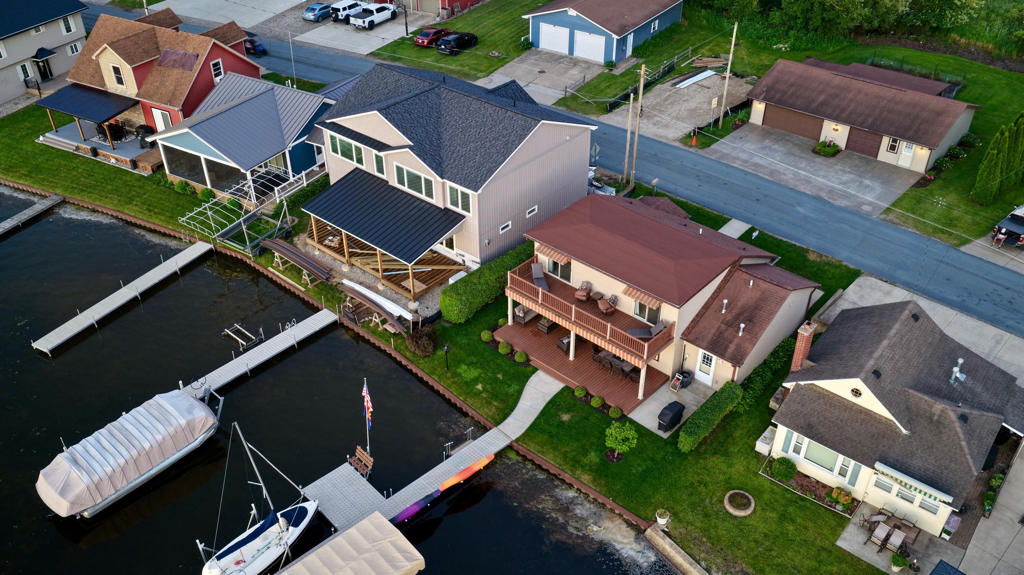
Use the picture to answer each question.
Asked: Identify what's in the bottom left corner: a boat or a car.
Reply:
boat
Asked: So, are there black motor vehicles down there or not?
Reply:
Yes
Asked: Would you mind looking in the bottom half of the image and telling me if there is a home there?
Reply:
Yes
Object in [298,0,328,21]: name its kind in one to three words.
car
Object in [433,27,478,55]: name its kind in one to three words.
car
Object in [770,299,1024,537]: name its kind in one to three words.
house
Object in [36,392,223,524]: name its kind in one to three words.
boat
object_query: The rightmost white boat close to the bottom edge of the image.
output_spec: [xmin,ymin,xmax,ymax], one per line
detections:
[196,422,320,575]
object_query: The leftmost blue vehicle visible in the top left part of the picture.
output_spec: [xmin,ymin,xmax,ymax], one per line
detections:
[252,30,271,57]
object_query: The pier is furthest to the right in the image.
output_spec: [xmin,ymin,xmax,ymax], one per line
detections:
[295,428,509,536]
